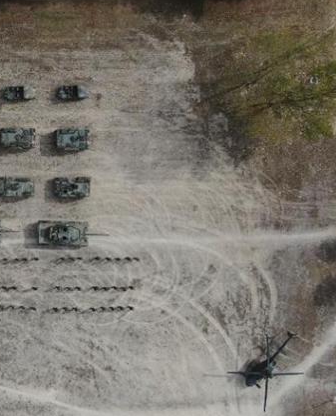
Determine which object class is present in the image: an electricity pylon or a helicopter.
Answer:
helicopter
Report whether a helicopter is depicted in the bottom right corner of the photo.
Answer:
Yes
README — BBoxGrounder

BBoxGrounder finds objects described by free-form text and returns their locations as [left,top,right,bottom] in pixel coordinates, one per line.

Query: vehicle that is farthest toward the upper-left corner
[1,87,34,101]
